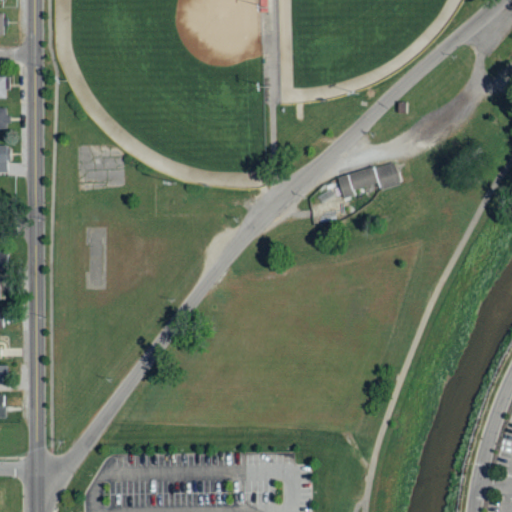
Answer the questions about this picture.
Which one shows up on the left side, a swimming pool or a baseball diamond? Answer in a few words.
baseball diamond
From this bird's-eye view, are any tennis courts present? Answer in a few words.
Yes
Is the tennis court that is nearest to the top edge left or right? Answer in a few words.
left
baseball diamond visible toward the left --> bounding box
[54,0,264,189]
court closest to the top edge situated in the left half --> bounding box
[78,144,125,191]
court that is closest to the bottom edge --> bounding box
[86,227,107,290]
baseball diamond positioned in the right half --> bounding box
[278,0,464,104]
